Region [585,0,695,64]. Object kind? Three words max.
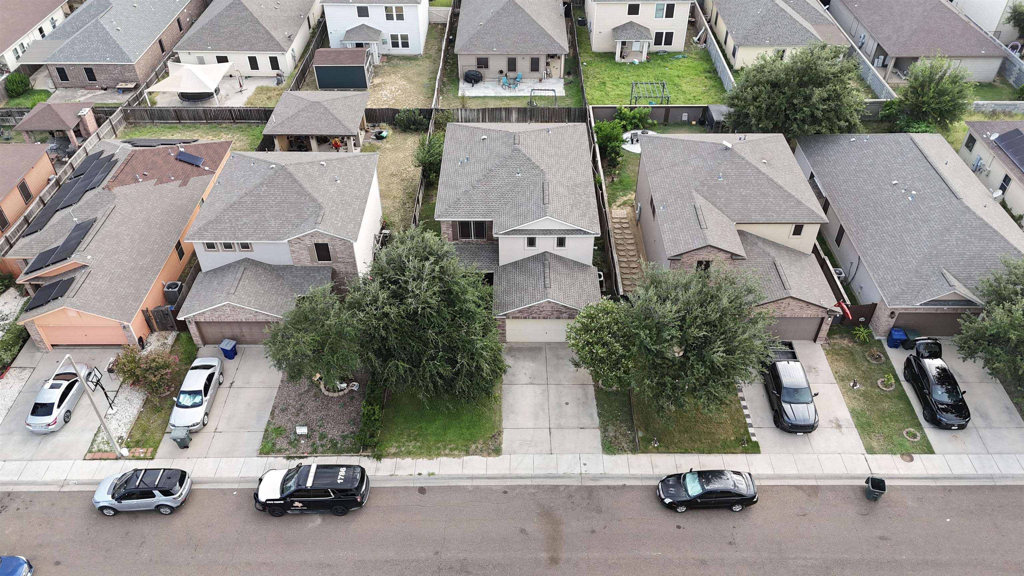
house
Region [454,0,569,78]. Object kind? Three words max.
house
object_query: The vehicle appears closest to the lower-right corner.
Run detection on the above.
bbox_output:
[904,342,968,431]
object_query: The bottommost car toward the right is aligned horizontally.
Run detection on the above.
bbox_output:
[658,466,762,513]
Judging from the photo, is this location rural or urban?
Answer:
urban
